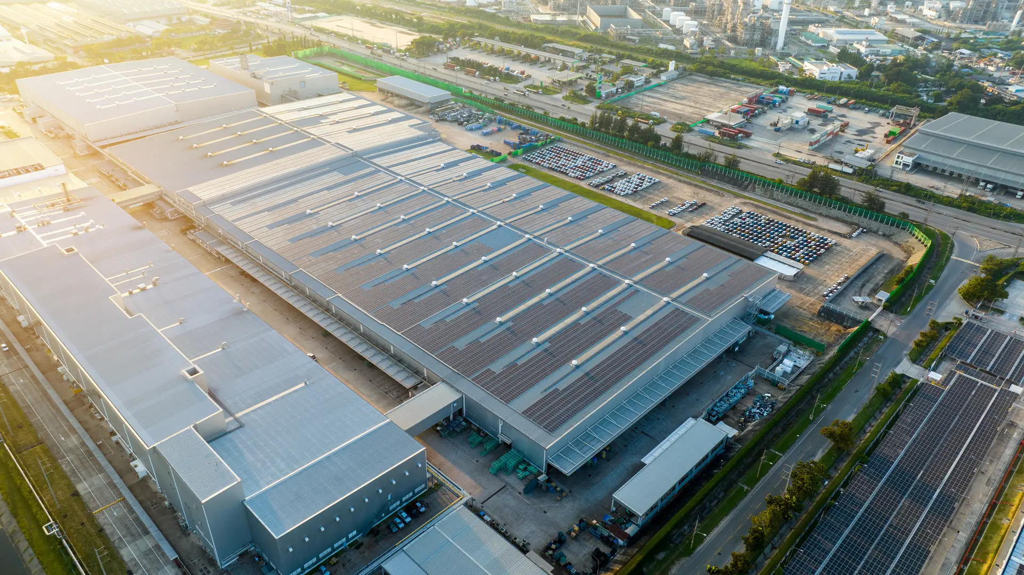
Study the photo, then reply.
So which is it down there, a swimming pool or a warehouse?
warehouse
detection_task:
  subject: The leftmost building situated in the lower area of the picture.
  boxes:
[0,182,428,575]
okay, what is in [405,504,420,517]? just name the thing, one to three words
vehicle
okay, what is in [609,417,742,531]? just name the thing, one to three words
shed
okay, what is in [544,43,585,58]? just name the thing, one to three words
building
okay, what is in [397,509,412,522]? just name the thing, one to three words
vehicle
